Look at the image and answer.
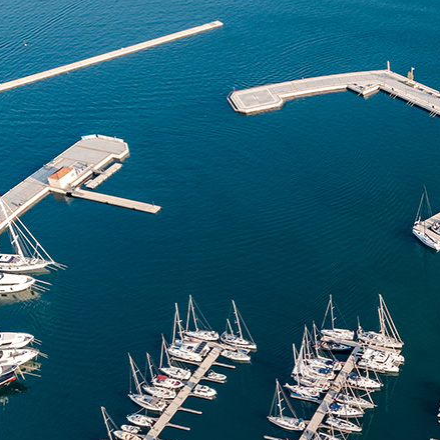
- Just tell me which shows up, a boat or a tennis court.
boat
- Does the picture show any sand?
No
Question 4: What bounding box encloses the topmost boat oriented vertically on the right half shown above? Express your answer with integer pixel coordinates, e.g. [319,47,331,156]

[408,187,440,249]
